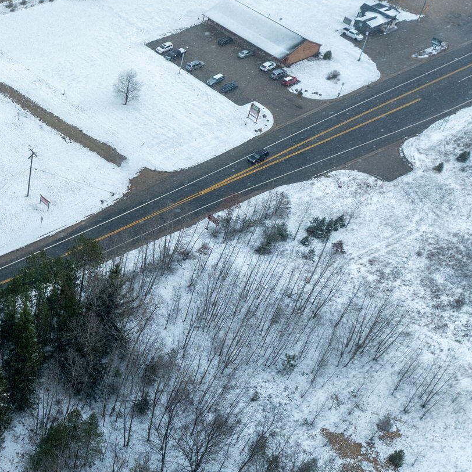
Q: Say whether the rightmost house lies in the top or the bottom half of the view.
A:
top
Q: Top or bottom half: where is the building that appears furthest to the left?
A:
top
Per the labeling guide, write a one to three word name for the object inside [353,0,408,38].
house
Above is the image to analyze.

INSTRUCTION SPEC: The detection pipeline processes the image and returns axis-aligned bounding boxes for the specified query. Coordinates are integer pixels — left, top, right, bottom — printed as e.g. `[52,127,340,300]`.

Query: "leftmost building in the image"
[203,0,324,66]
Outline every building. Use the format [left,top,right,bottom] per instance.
[203,0,324,66]
[353,0,408,38]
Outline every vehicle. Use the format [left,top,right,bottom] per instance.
[208,73,226,84]
[281,76,299,85]
[217,35,235,47]
[156,41,173,52]
[222,83,239,93]
[166,49,186,60]
[238,50,255,59]
[271,69,288,79]
[250,149,270,163]
[343,28,364,40]
[260,62,277,70]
